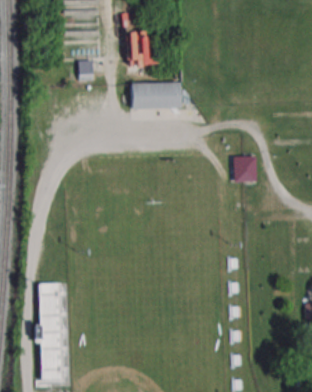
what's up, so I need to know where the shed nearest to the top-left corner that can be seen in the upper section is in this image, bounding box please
[78,60,94,82]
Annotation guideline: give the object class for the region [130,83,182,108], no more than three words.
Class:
barn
